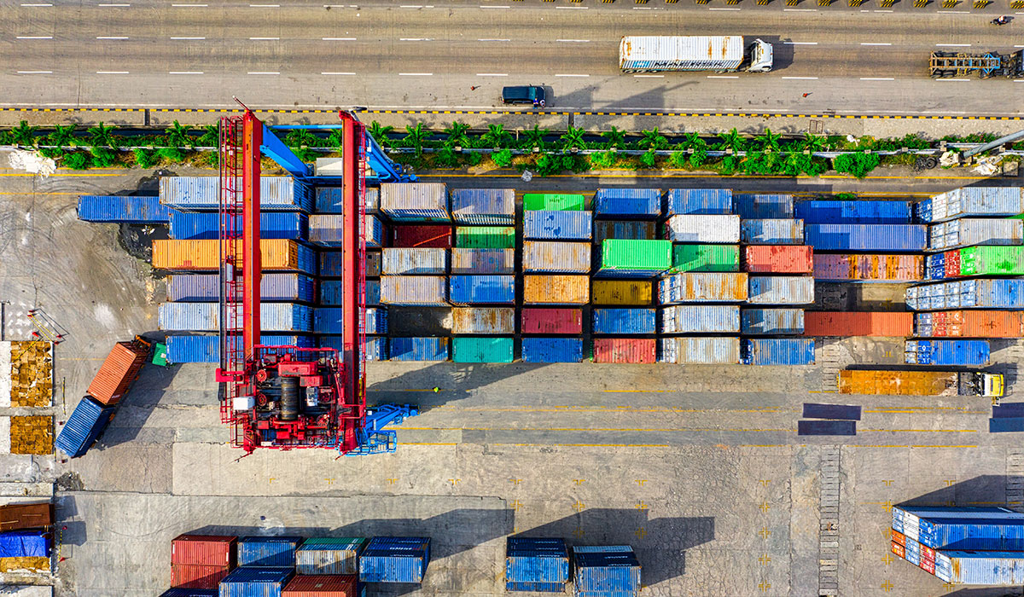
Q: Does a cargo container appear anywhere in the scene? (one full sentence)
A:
Yes, the photo shows a cargo container.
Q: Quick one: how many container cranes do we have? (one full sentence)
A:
The picture shows just 1 container crane.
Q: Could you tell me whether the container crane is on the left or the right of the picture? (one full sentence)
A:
You can find the container crane on the left side of the picture.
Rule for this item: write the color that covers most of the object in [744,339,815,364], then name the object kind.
blue shipping container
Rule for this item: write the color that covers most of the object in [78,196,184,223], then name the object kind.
blue shipping container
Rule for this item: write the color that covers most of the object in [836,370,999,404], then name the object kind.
orange truck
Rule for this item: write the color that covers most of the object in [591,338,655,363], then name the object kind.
red shipping container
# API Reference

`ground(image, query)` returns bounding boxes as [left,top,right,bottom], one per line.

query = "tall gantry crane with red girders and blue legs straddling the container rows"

[214,90,426,464]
